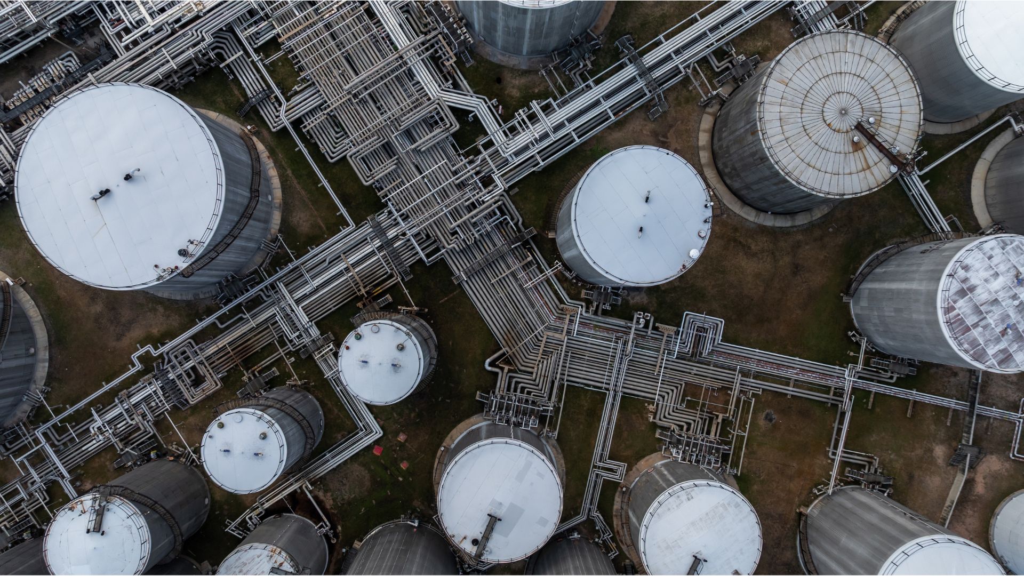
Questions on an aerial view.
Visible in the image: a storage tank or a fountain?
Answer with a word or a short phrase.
storage tank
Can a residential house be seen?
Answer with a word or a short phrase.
No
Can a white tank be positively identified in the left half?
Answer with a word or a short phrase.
Yes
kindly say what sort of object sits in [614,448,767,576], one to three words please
storage tank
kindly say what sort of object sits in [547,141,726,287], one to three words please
storage tank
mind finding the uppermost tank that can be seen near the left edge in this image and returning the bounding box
[4,78,282,298]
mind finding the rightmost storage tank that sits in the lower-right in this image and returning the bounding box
[988,488,1024,566]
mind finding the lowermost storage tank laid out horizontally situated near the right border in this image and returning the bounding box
[796,483,1017,576]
